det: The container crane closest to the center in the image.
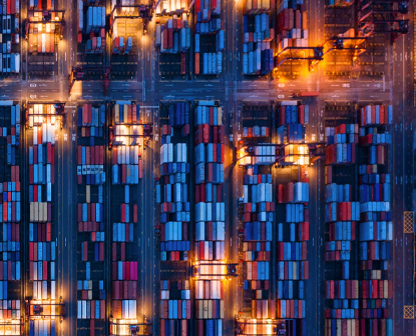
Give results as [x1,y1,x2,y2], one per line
[233,142,283,163]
